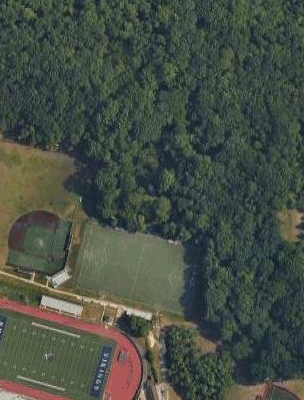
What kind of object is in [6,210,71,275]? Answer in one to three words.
baseball field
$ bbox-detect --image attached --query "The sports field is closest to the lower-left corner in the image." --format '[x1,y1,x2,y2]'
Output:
[0,311,116,400]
